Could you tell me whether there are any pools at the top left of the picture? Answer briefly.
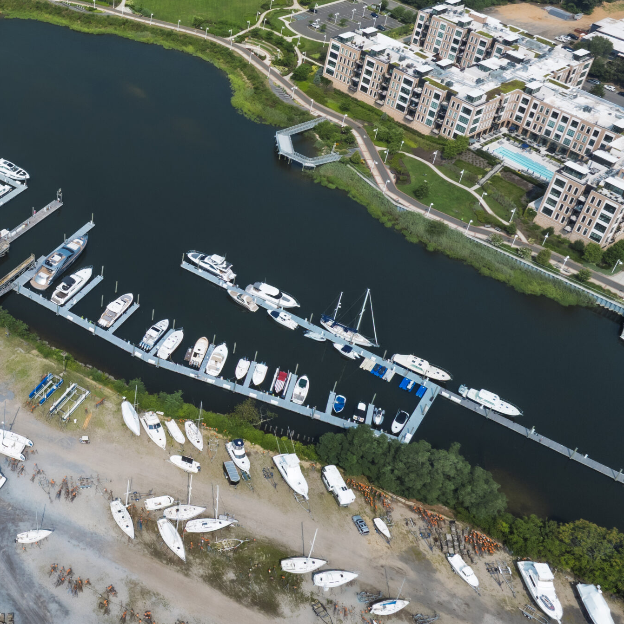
No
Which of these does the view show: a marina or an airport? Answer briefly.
marina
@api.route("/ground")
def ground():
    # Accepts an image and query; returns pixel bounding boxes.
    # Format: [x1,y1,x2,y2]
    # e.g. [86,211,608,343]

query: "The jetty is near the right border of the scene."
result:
[438,389,624,485]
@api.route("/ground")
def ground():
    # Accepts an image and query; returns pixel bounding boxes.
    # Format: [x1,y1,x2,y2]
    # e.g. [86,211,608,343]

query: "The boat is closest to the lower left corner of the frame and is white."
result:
[16,501,53,545]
